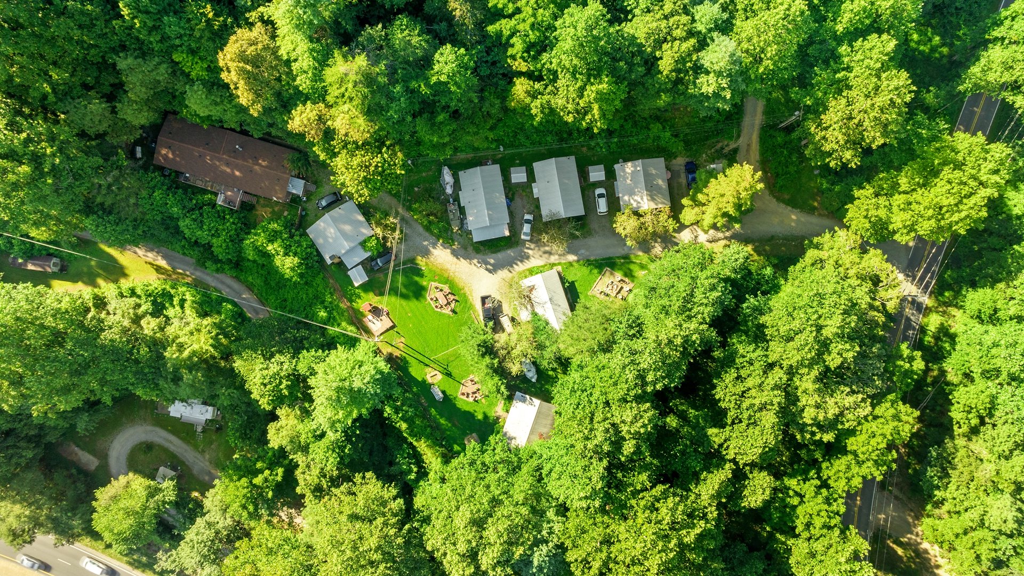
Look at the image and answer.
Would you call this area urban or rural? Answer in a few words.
rural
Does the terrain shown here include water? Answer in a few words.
No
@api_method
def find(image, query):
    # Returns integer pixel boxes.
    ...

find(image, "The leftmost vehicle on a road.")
[17,553,45,571]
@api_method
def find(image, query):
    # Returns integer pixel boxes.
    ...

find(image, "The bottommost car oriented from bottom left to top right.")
[371,250,396,271]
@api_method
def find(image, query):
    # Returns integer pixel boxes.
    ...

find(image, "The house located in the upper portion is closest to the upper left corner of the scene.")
[153,114,317,210]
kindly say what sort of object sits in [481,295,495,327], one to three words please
vehicle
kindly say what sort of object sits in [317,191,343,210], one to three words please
car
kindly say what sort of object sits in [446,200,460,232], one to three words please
boat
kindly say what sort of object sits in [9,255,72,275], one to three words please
trailer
